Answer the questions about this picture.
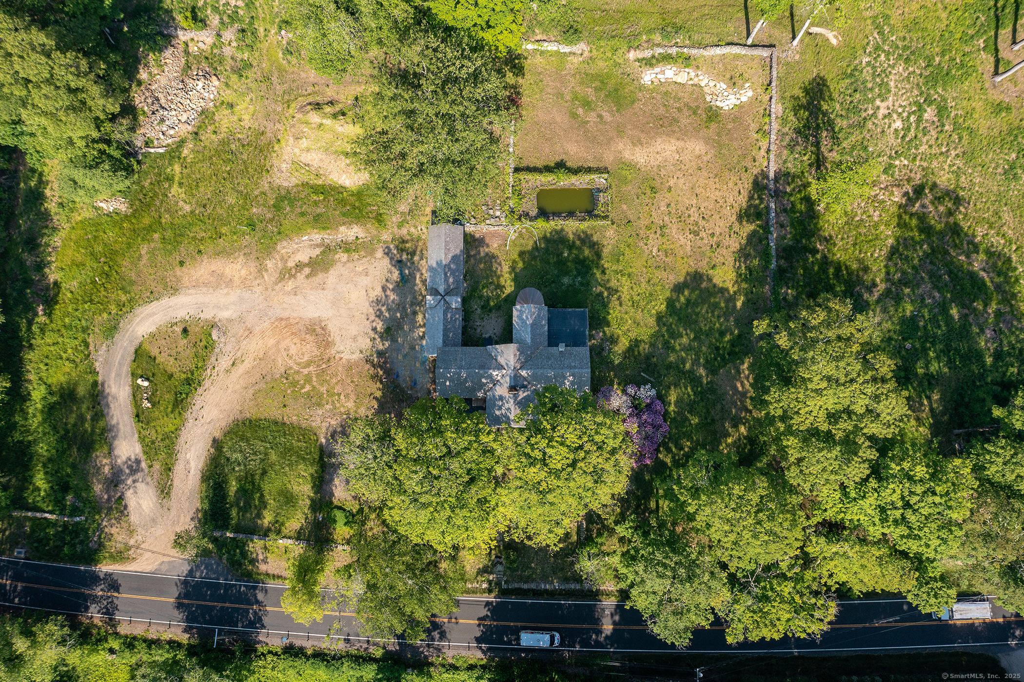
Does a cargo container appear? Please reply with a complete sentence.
No, I can see no cargo container in this picture.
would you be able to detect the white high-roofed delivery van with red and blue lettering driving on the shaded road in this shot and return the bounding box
[520,631,561,650]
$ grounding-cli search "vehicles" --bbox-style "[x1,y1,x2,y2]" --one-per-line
[930,601,993,624]
[520,631,561,650]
